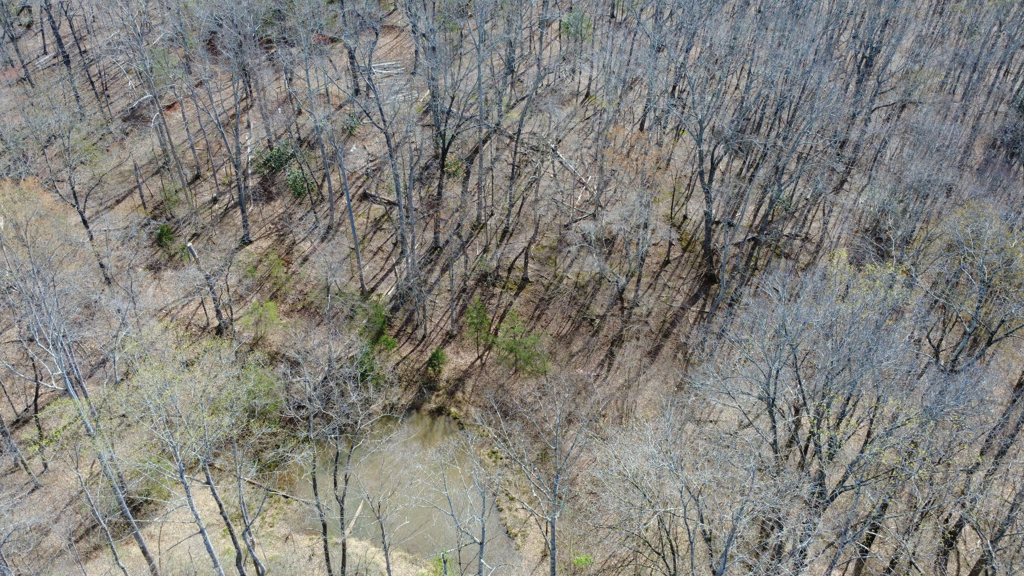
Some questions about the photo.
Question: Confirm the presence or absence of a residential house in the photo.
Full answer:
No, the scene contains no residential house.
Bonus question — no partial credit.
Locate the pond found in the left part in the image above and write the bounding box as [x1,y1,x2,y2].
[274,409,517,568]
